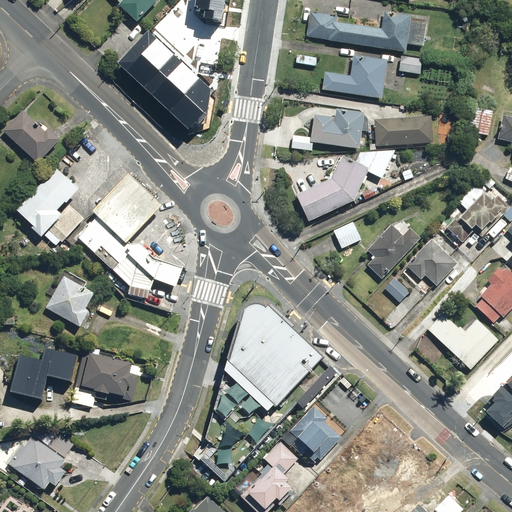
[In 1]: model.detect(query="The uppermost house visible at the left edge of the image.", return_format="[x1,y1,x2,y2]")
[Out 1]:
[4,110,56,162]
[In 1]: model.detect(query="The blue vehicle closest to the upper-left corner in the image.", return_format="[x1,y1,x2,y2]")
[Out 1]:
[81,138,96,154]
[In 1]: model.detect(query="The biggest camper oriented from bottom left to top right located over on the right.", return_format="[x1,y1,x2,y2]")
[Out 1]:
[488,218,507,238]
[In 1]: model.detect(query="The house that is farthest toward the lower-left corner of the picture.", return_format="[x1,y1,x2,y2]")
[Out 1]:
[8,434,66,491]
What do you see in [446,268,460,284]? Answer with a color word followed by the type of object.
white vehicle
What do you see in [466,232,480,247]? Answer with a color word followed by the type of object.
white vehicle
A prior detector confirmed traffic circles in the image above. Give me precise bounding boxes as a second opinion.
[200,193,240,234]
